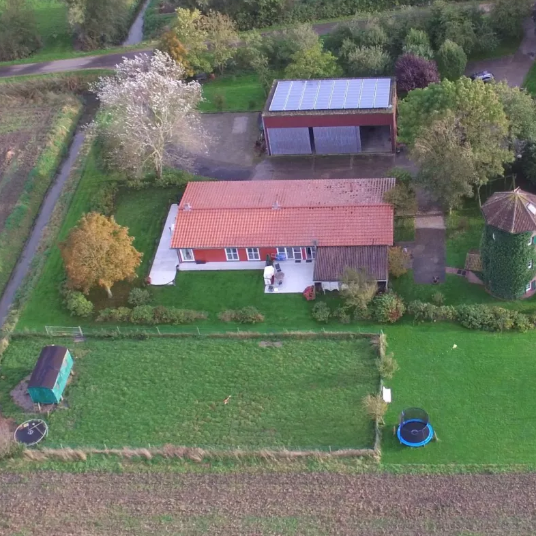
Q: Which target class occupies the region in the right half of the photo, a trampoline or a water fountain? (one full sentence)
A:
There is a trampoline in the right half of the photo.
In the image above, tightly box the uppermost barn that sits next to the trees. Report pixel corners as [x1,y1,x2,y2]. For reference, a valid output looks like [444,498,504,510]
[260,78,396,155]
